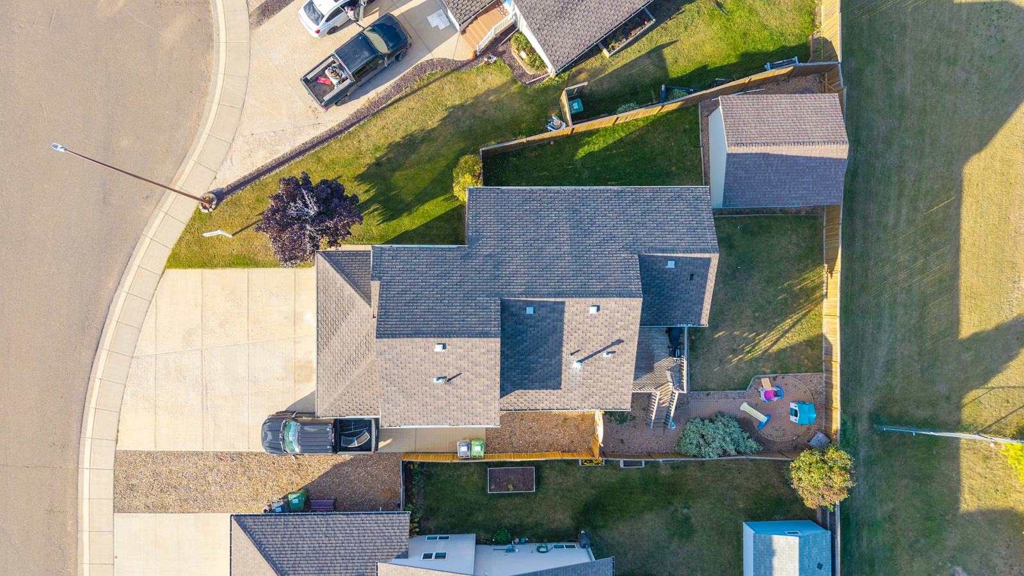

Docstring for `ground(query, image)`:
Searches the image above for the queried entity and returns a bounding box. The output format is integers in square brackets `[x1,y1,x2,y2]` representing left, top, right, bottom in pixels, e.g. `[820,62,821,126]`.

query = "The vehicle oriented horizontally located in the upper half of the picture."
[298,0,382,41]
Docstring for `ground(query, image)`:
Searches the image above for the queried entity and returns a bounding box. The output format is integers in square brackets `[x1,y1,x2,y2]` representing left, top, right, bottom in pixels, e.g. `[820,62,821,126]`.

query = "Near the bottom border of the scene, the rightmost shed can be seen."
[743,524,830,576]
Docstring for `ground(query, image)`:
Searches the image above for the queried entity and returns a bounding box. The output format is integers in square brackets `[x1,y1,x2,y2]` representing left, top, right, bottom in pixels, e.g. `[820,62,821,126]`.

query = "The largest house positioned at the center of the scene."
[314,184,718,428]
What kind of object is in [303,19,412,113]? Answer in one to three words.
truck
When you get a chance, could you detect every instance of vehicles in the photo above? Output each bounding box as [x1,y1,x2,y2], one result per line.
[298,0,382,41]
[263,412,382,461]
[303,19,412,113]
